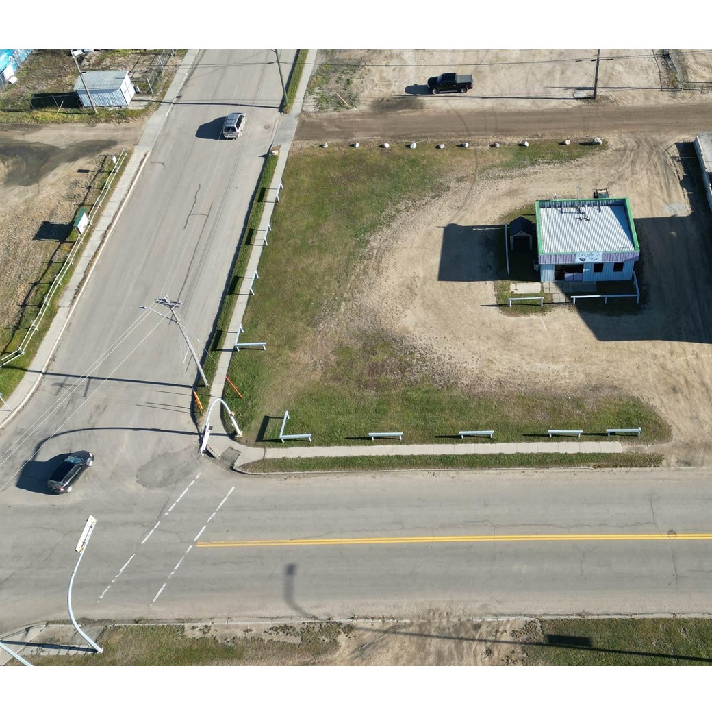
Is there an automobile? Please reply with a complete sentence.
Yes, an automobile is visible in the scene.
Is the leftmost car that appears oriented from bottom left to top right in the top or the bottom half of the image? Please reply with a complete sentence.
The bottom half of the photo is where the leftmost car that appears oriented from bottom left to top right is.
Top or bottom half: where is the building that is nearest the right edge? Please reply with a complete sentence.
The top half of the photo is where the building that is nearest the right edge is.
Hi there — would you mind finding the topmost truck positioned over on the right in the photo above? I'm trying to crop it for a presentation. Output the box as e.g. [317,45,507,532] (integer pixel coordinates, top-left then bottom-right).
[427,73,475,94]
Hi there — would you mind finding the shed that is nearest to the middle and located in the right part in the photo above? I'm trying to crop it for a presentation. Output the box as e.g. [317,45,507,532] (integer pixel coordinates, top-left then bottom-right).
[509,213,533,248]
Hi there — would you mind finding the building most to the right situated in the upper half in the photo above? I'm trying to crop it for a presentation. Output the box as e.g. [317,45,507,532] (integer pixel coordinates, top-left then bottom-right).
[534,171,641,282]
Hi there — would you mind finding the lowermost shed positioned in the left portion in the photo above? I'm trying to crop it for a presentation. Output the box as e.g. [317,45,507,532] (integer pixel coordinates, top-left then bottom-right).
[75,71,136,107]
